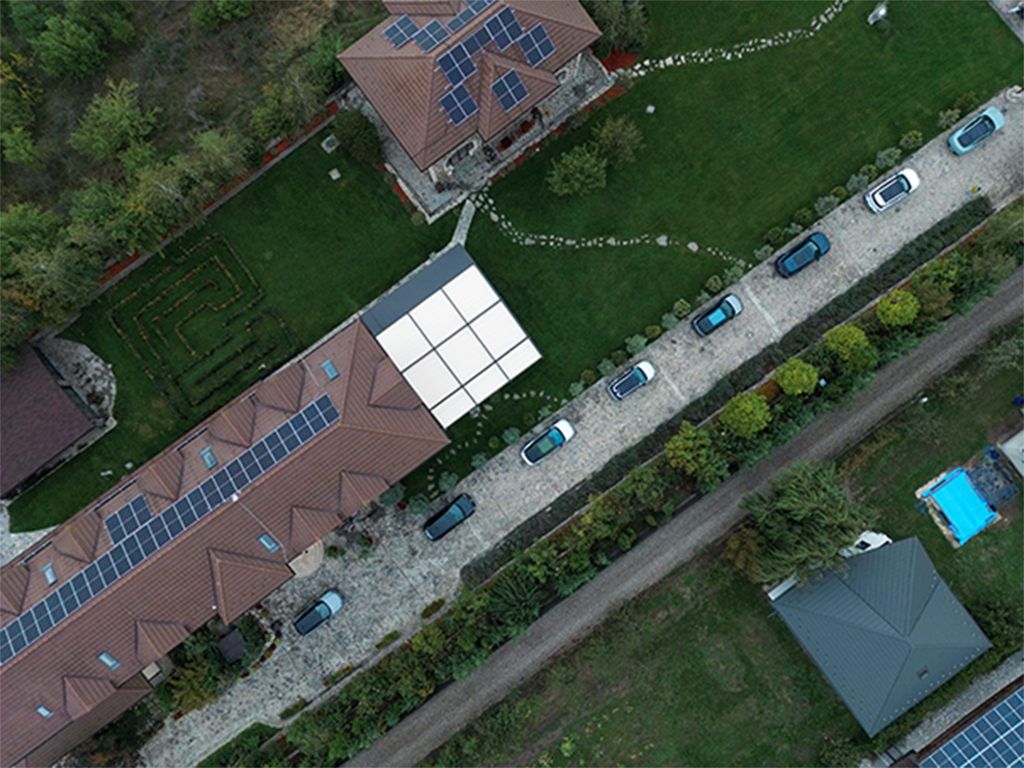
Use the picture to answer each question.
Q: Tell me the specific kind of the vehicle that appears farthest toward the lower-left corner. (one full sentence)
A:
The vehicle that appears farthest toward the lower-left corner can be classified as an automobile.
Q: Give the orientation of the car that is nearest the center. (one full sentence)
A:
I'd say the car that is nearest the center is aligned on a diagonal in the picture.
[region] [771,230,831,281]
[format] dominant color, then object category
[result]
blue car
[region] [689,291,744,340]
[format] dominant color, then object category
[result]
blue car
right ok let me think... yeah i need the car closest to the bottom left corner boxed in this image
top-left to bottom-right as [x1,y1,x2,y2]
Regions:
[289,586,347,639]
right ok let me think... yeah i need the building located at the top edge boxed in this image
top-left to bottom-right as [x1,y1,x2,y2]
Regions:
[337,0,603,171]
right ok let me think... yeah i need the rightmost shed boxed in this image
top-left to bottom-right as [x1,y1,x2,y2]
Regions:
[989,423,1024,478]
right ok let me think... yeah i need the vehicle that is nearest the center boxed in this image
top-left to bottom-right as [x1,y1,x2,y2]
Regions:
[520,417,575,467]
